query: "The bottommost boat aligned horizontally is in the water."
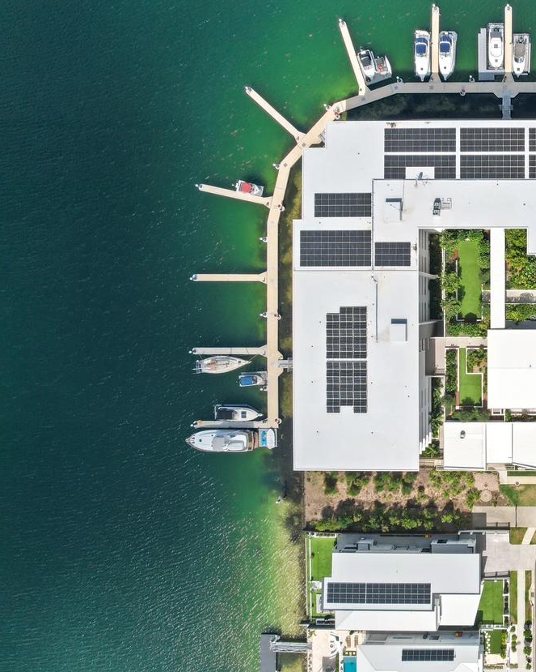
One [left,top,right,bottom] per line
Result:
[181,429,264,453]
